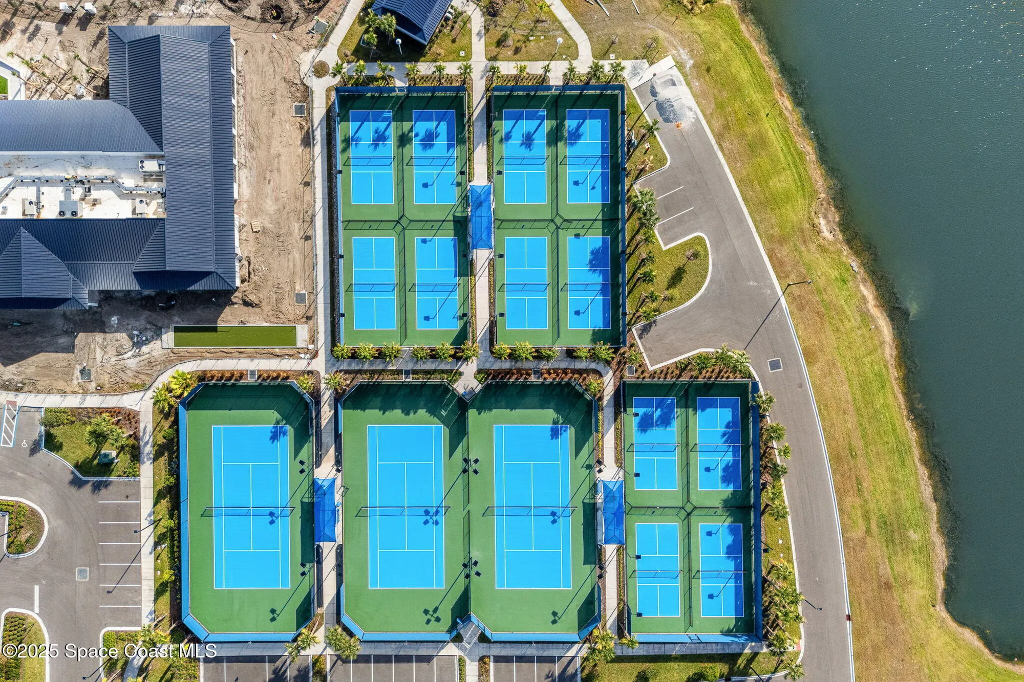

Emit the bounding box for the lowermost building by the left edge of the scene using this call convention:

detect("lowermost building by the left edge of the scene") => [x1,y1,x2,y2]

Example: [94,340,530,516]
[0,25,238,309]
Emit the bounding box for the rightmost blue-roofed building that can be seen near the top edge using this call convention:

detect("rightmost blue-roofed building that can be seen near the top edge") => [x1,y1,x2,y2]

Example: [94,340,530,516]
[371,0,455,47]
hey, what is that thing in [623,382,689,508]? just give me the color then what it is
blue sports court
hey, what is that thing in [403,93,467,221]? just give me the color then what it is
blue sports court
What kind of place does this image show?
sports ground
